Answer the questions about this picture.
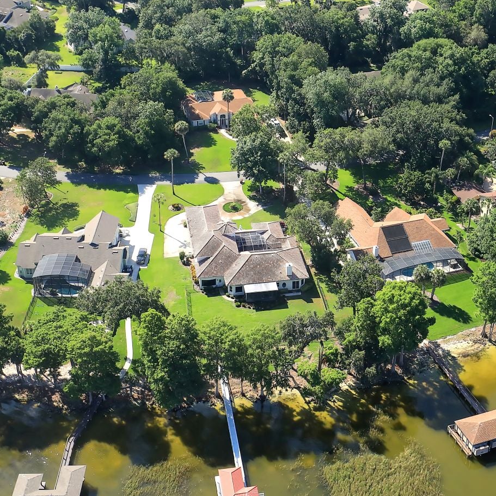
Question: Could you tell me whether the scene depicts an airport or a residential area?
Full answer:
What you see here is a residential area.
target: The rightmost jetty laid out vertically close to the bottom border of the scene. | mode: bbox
[217,377,251,486]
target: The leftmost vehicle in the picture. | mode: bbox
[136,245,149,262]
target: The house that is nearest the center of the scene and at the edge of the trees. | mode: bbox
[186,199,309,307]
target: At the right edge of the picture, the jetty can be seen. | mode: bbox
[420,338,492,414]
